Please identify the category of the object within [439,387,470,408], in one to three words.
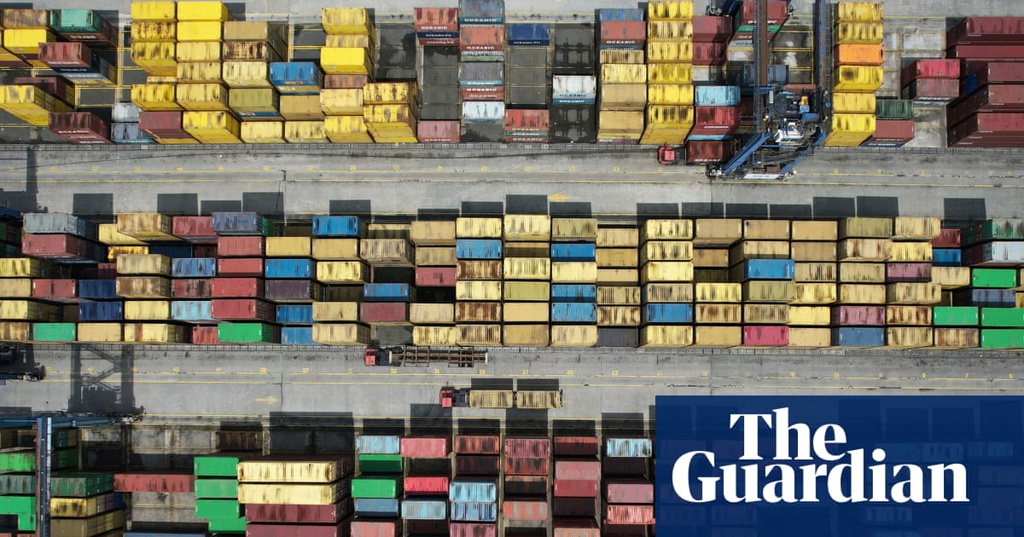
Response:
truck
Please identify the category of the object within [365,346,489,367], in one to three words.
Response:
truck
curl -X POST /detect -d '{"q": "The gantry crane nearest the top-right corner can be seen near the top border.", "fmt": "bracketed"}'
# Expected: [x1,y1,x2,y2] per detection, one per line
[707,0,843,182]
